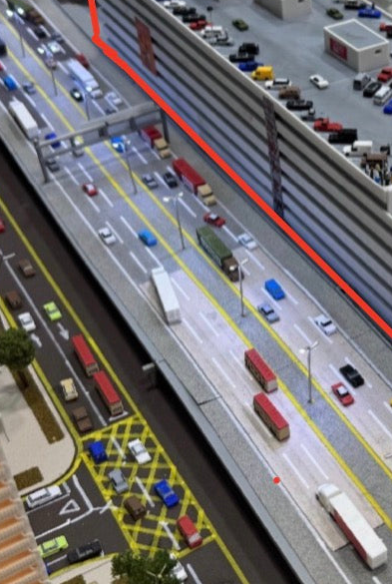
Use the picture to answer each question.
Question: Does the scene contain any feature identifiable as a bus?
Yes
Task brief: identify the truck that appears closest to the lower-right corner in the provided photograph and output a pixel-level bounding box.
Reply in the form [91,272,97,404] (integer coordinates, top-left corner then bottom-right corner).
[315,484,392,577]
